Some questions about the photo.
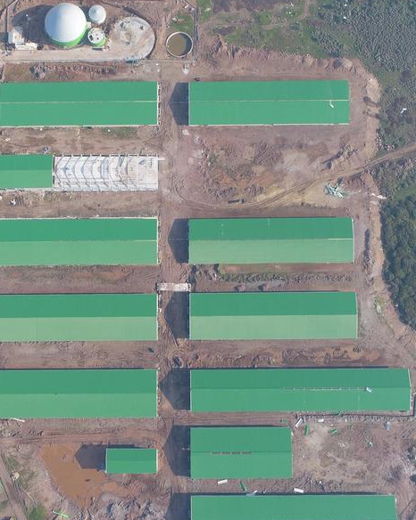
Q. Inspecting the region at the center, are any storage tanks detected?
No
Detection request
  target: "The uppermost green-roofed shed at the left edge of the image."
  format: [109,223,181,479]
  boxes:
[0,81,161,129]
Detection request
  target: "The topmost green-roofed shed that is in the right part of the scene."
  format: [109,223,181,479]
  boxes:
[188,80,350,128]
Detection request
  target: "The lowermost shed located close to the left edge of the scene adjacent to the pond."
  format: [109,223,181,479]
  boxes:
[0,369,161,419]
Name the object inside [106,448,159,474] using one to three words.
shed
